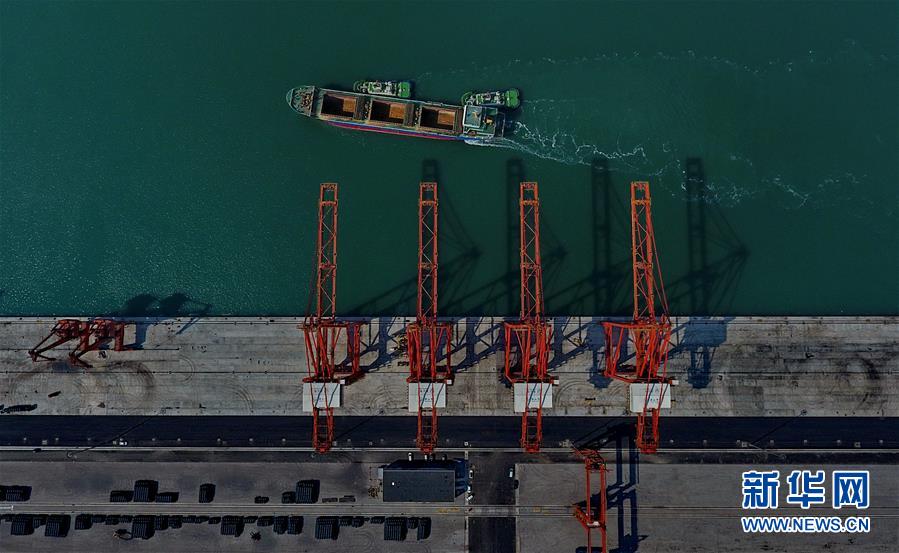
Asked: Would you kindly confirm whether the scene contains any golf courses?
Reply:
No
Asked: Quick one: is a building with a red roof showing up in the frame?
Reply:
No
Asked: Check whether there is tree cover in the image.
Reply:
No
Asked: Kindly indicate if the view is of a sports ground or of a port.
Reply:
port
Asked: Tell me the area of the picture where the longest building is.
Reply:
bottom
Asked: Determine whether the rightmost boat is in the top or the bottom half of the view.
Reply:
top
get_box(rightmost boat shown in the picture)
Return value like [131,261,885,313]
[461,88,520,108]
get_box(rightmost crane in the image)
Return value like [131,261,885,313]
[596,182,678,456]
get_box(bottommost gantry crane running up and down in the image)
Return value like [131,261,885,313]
[574,448,617,553]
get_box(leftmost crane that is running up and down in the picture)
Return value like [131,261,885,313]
[298,183,366,455]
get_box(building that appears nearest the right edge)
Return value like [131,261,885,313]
[383,466,454,502]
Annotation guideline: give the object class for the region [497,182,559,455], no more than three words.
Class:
container crane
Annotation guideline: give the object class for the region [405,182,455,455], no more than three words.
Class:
container crane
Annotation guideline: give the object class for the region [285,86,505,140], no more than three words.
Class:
ship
